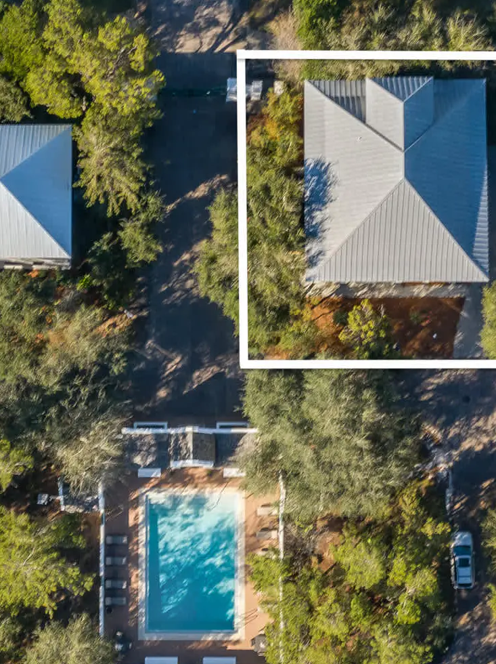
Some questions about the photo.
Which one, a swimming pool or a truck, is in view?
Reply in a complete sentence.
This aerial view contains a swimming pool.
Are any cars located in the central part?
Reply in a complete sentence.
No, no car can be made out in the central part.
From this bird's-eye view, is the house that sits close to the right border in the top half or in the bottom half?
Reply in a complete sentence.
It is in the top half that the house that sits close to the right border appears.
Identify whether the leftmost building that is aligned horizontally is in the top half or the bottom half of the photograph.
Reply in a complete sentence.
It is in the bottom half that the leftmost building that is aligned horizontally appears.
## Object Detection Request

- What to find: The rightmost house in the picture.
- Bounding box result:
[302,76,493,291]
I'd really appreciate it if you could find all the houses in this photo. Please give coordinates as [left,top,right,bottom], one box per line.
[0,123,74,280]
[302,76,493,291]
